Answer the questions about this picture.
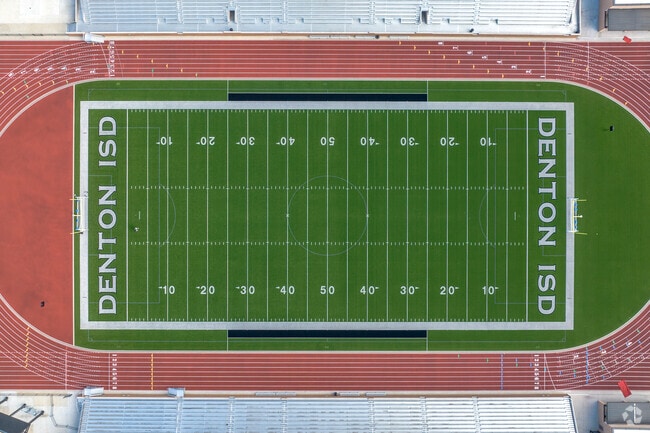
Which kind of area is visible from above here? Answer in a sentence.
This looks like a sports ground.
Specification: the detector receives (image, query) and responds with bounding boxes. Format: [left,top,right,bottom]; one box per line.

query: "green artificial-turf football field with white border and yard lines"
[75,80,650,352]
